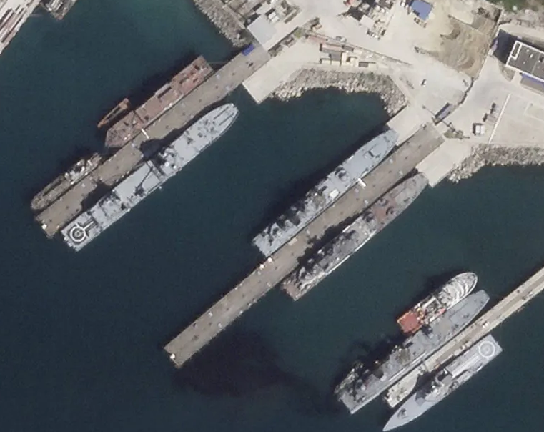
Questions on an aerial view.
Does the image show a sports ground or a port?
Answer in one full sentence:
What you see here is a port.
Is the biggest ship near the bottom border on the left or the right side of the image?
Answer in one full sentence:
The biggest ship near the bottom border is on the right side of the image.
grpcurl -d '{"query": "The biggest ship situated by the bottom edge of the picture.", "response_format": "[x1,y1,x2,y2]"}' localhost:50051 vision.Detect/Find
[338,290,488,415]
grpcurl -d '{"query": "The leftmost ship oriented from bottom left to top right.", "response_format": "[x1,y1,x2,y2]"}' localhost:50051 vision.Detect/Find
[31,157,100,209]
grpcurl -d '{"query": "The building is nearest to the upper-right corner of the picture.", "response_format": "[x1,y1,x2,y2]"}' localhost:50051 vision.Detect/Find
[507,41,544,85]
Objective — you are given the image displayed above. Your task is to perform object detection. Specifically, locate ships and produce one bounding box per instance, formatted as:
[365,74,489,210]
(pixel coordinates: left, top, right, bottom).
[338,290,488,415]
[282,173,428,303]
[31,157,100,209]
[399,275,477,333]
[97,100,129,126]
[253,130,398,257]
[106,56,213,145]
[61,103,239,251]
[384,337,501,431]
